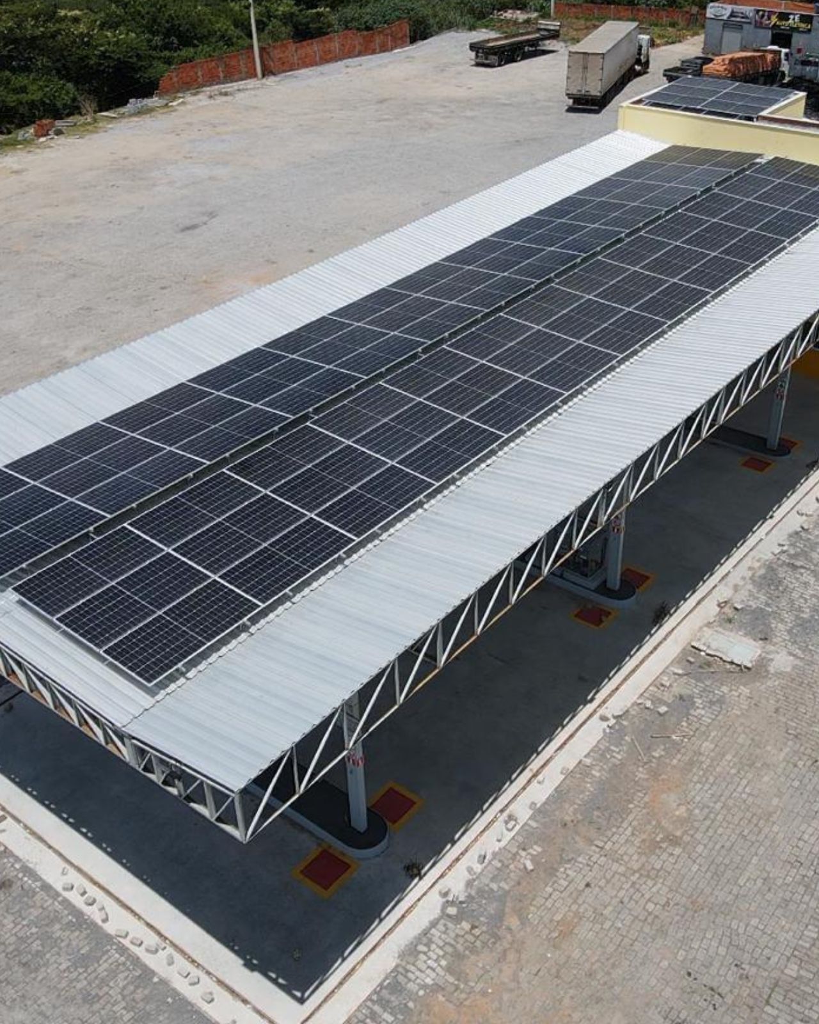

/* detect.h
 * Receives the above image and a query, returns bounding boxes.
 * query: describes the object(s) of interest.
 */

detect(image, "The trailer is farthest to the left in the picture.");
[469,15,562,66]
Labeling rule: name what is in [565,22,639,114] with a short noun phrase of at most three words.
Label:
trailer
